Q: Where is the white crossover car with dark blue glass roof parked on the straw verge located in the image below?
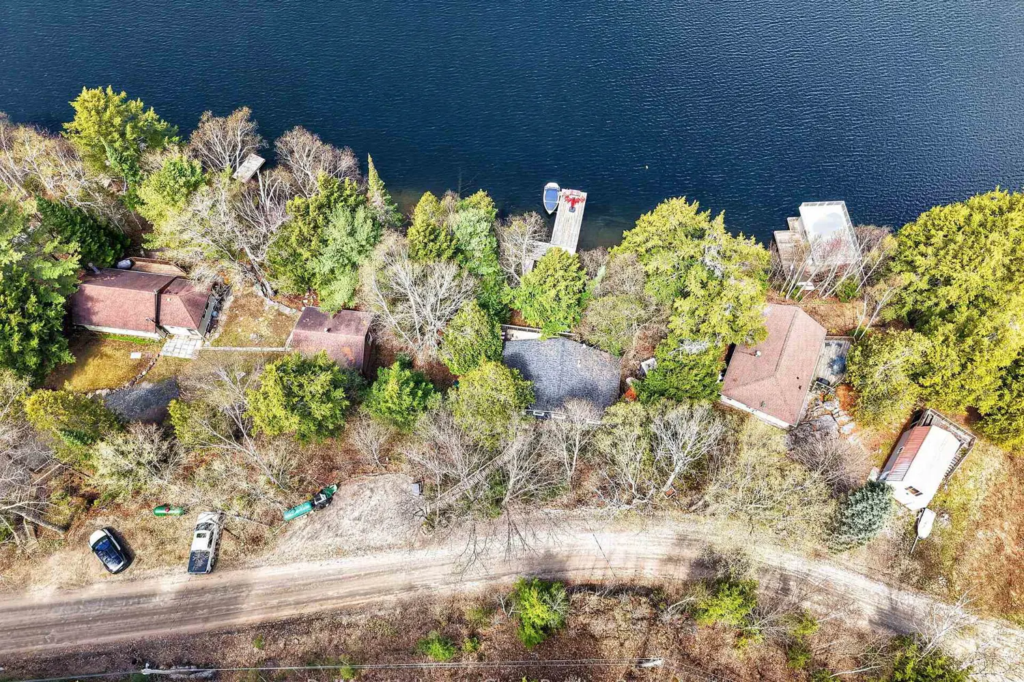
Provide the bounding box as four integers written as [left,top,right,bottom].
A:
[91,529,131,580]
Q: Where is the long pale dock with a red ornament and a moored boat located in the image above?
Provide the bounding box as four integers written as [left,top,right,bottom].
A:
[552,189,586,254]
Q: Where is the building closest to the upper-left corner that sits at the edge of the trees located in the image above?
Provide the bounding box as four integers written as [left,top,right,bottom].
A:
[73,268,233,340]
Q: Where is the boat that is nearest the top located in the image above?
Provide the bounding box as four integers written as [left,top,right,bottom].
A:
[543,179,561,216]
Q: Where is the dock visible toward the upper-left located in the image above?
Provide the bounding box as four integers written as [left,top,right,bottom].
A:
[233,154,266,183]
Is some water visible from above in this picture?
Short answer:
Yes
